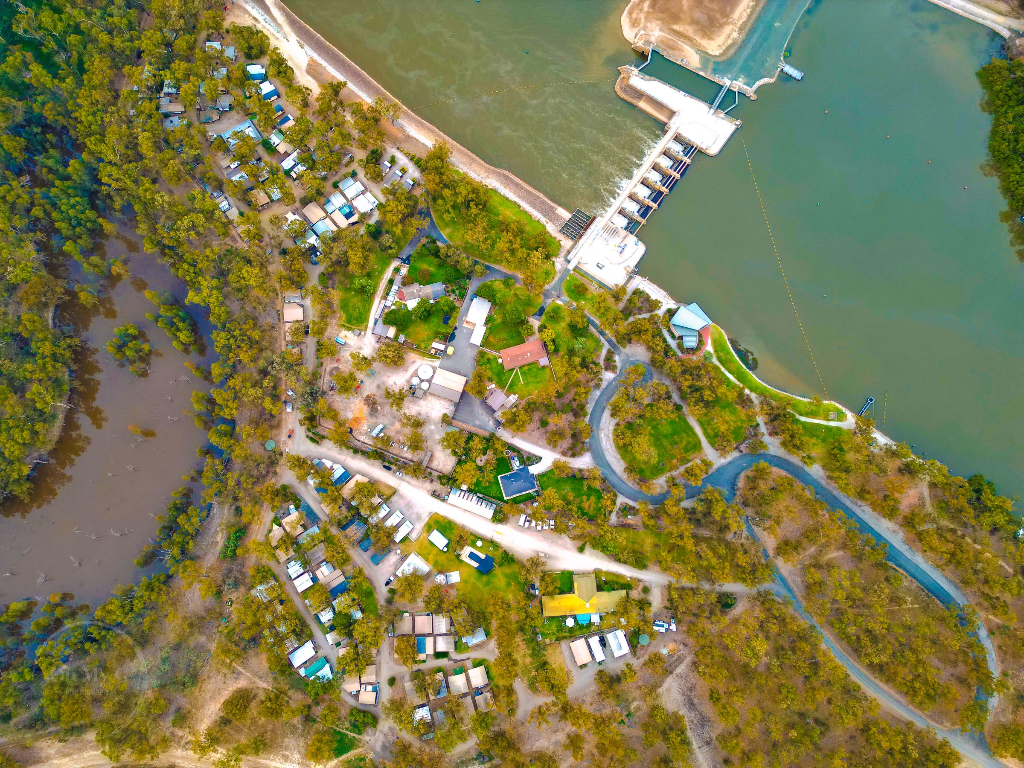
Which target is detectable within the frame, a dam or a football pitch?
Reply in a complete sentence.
There is a dam in the scene.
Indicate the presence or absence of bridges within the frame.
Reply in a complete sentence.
Yes, looking at the shot, I can spot a bridge.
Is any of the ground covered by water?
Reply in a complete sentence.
Yes, some water is visible.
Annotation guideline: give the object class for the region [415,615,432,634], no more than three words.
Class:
building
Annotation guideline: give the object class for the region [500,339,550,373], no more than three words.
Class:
house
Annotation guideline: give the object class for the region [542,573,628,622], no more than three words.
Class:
building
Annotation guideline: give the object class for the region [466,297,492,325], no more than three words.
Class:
shed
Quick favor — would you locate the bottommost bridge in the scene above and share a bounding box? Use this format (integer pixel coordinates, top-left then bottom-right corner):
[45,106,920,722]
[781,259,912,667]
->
[566,123,679,272]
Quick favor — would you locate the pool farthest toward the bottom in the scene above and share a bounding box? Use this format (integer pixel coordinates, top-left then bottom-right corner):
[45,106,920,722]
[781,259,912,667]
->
[459,546,486,570]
